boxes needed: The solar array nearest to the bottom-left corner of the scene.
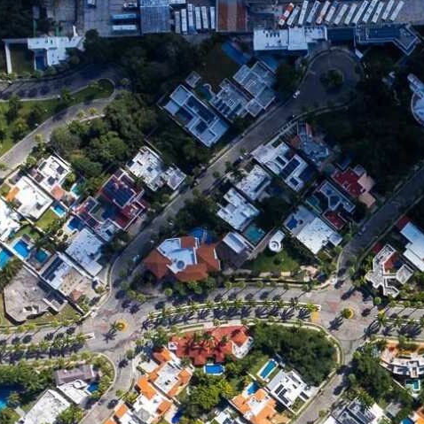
[41,256,64,282]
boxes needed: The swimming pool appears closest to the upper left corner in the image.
[34,51,47,70]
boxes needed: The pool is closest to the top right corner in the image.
[254,51,282,70]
